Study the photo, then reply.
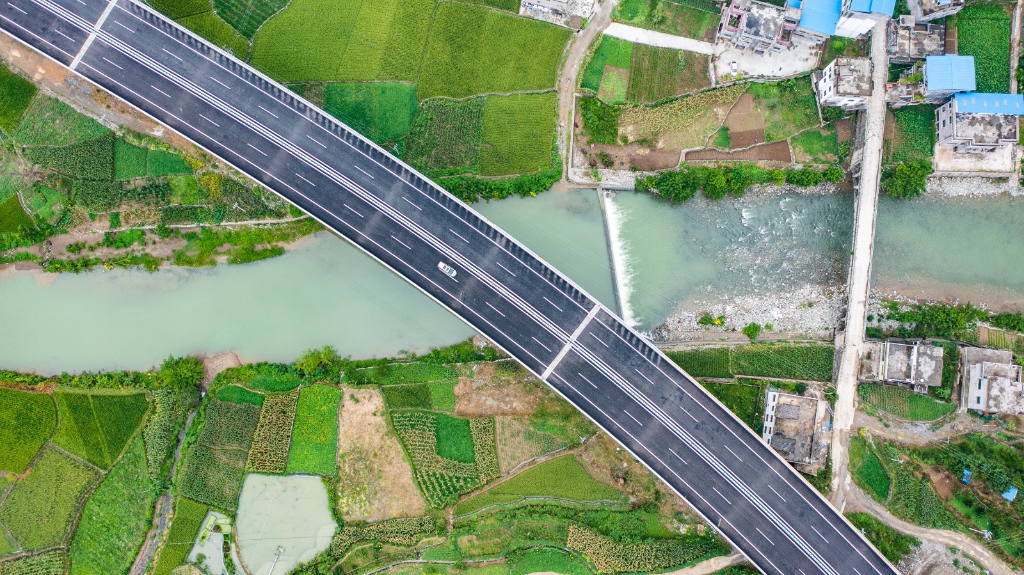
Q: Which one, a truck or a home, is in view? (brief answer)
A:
home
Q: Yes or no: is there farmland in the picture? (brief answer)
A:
Yes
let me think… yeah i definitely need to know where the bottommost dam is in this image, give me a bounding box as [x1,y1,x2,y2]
[600,189,632,327]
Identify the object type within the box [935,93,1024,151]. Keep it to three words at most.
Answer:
house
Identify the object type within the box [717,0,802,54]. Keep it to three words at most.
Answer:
house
